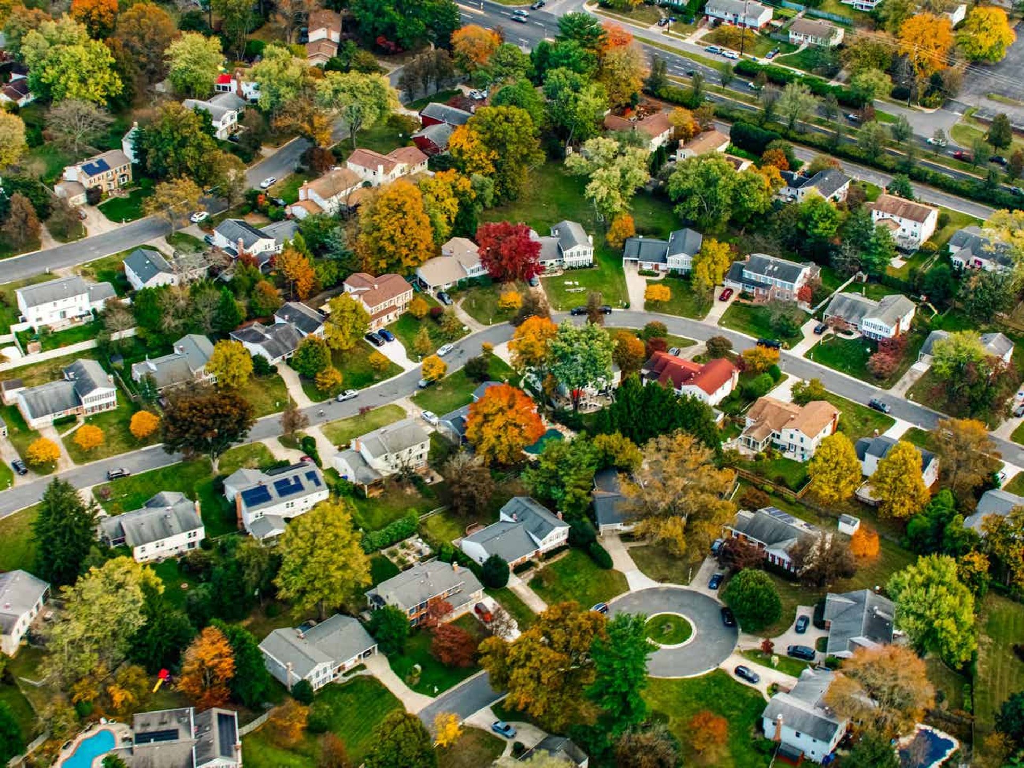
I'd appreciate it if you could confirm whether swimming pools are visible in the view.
Yes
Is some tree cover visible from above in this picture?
Yes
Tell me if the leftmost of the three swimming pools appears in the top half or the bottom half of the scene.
bottom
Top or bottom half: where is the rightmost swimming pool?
bottom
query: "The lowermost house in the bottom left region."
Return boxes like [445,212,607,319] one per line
[130,697,247,768]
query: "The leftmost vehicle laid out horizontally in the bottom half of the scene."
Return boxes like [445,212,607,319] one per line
[103,466,132,481]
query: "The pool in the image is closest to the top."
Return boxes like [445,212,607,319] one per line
[521,423,575,459]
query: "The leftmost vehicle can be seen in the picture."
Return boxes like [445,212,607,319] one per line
[11,455,29,476]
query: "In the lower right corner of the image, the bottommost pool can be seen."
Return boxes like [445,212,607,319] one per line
[896,723,962,768]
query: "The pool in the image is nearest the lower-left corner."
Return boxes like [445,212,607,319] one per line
[53,722,131,768]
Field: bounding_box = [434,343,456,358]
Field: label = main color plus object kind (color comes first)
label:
white car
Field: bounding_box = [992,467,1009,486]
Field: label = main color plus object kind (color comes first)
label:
white car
